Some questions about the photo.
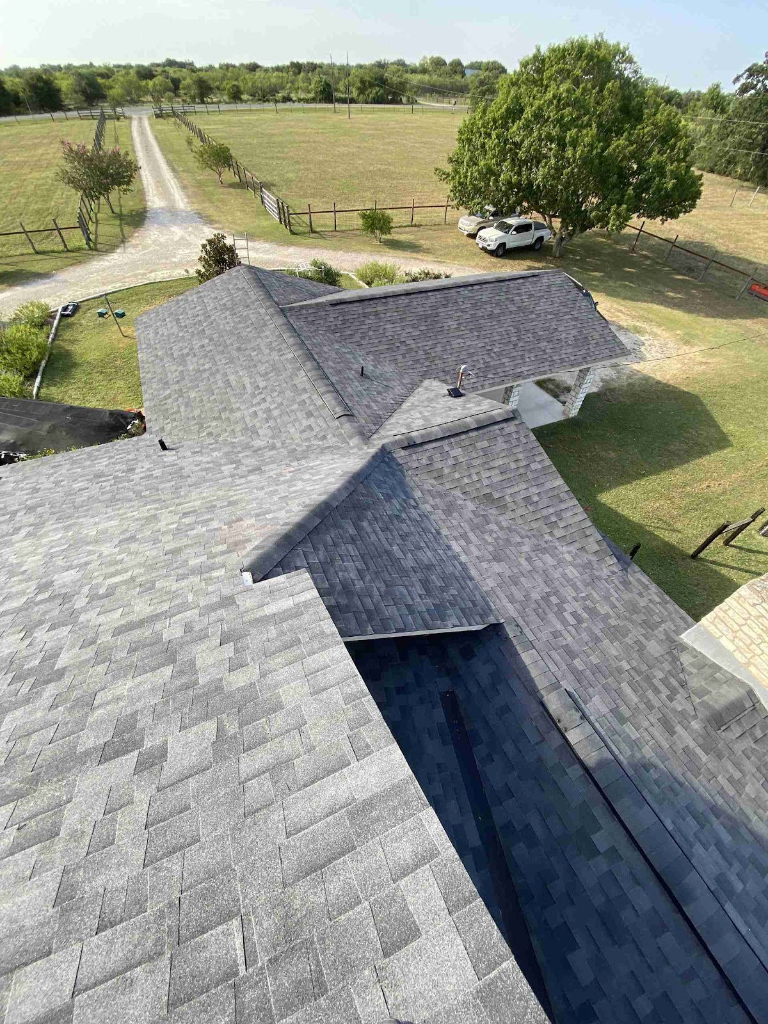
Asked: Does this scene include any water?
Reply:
No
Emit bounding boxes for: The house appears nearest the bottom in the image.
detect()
[0,263,768,1024]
